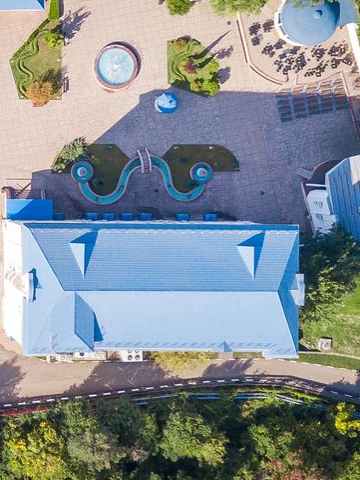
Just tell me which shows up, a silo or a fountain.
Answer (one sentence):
Of the two, only a fountain appears.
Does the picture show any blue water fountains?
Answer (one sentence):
Yes, there's a blue water fountain down there.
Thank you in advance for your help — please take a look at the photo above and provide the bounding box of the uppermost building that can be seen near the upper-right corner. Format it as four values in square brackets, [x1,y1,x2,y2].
[271,0,359,47]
